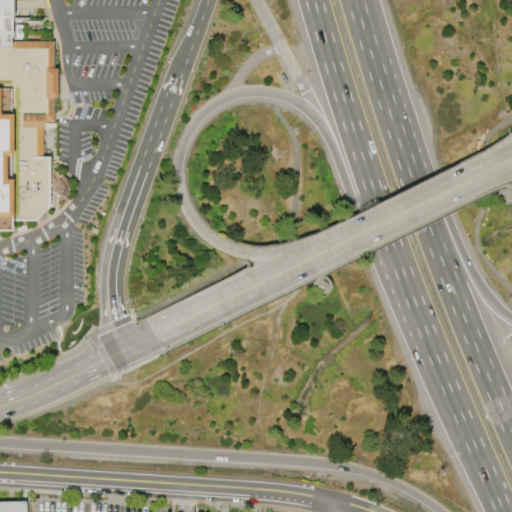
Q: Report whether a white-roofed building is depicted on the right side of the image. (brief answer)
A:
No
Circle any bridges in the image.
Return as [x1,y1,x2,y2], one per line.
[148,134,512,352]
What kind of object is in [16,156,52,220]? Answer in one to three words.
building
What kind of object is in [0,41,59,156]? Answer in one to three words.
building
